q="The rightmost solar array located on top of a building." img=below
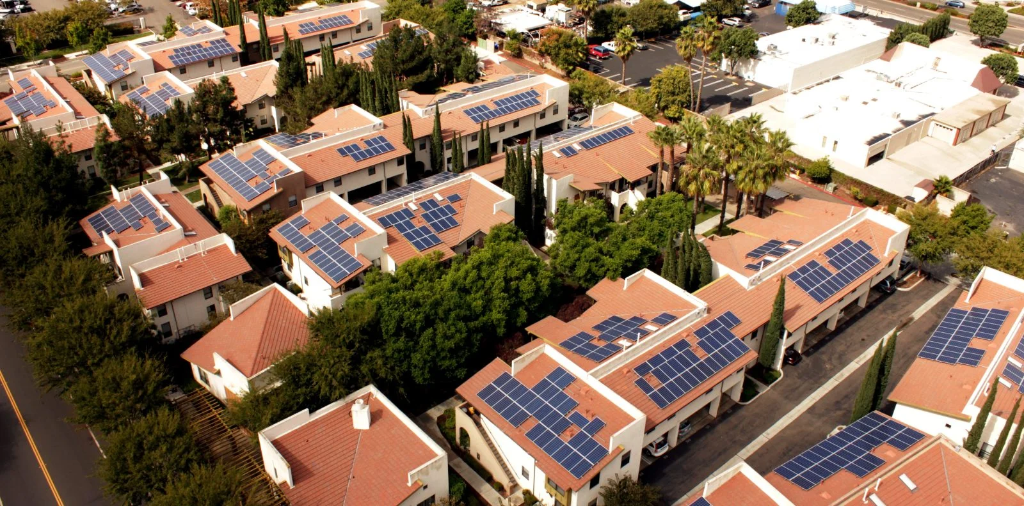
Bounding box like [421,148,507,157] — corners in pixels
[919,307,1021,366]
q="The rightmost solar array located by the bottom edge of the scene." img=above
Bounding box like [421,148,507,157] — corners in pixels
[774,414,925,489]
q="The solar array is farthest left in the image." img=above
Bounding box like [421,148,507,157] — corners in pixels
[0,81,72,120]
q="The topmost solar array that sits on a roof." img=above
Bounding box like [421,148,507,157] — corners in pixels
[297,12,353,33]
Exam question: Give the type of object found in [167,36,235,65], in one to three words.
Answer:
solar array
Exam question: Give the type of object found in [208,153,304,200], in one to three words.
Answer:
solar array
